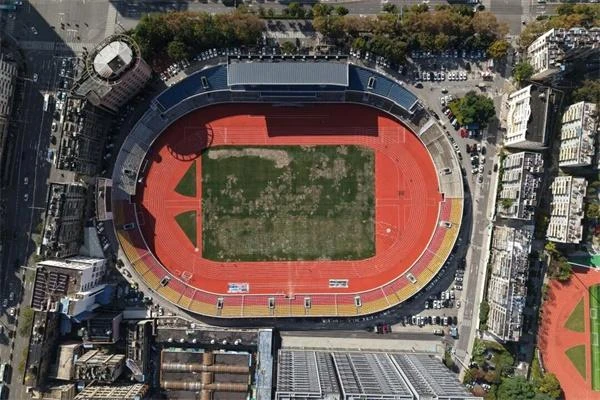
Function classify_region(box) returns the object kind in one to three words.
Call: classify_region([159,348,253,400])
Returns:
building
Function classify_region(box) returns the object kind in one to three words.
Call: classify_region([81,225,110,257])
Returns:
shed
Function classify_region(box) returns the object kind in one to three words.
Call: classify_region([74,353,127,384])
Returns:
building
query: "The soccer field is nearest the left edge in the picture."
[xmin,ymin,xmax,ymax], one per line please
[202,146,375,262]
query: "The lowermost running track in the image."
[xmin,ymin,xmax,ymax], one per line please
[537,269,600,400]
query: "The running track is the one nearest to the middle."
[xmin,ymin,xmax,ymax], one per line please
[136,100,440,296]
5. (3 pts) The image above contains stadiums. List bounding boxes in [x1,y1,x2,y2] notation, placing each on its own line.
[111,56,463,320]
